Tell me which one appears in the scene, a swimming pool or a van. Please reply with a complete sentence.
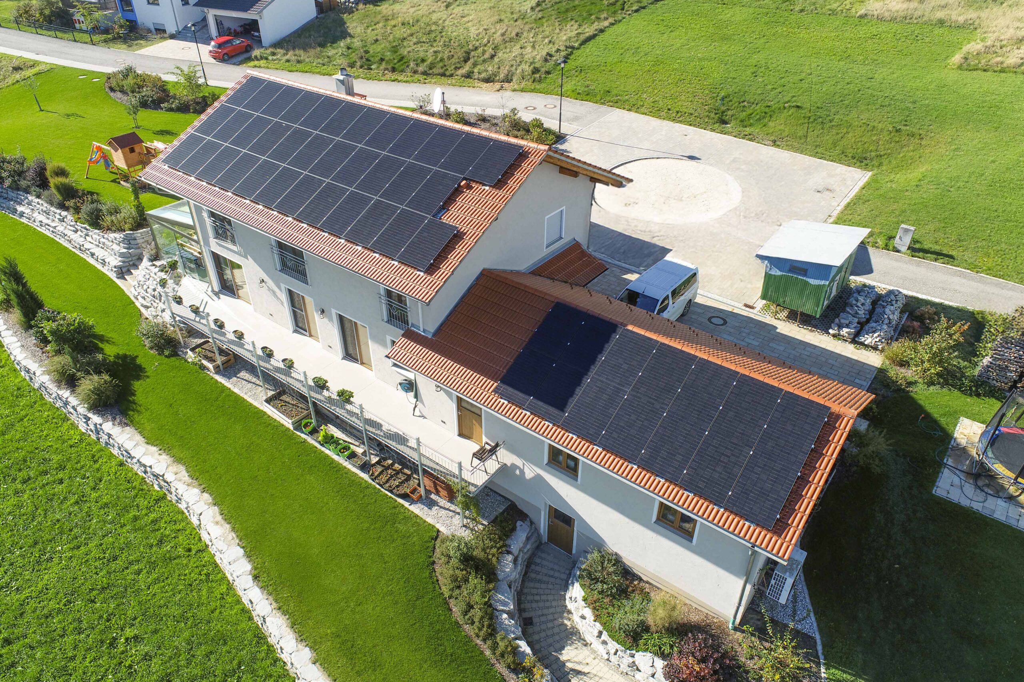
The one in the frame is a van.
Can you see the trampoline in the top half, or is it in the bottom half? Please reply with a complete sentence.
The bottom half of the photo is where the trampoline is.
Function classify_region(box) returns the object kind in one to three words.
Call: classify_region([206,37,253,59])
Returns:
car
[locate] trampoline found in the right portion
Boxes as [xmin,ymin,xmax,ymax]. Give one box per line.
[971,384,1024,507]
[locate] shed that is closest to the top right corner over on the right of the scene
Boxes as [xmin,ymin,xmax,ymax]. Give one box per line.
[752,225,869,323]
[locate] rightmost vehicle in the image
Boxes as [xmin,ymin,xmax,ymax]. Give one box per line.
[622,258,701,319]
